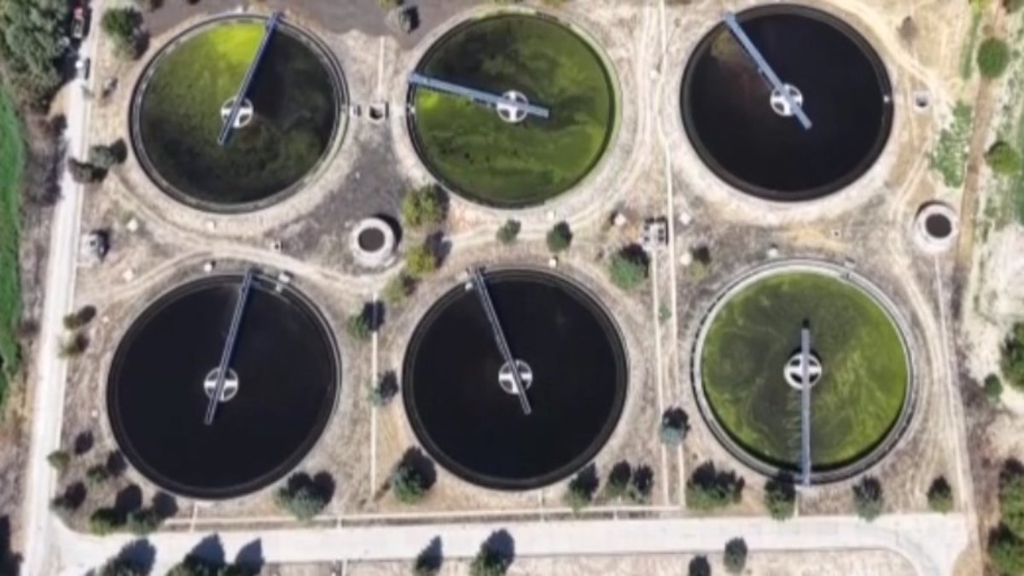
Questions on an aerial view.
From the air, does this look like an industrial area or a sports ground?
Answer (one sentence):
What you see here is an industrial area.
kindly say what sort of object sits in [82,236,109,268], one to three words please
shed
